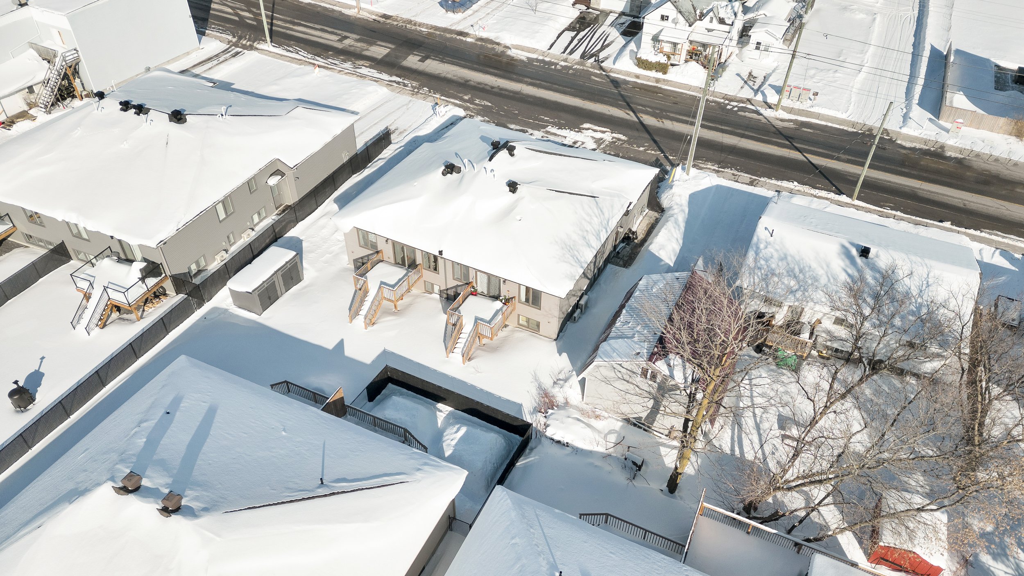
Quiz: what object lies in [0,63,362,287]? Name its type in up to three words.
house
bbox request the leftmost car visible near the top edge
[615,13,643,36]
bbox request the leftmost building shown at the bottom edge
[0,353,472,576]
